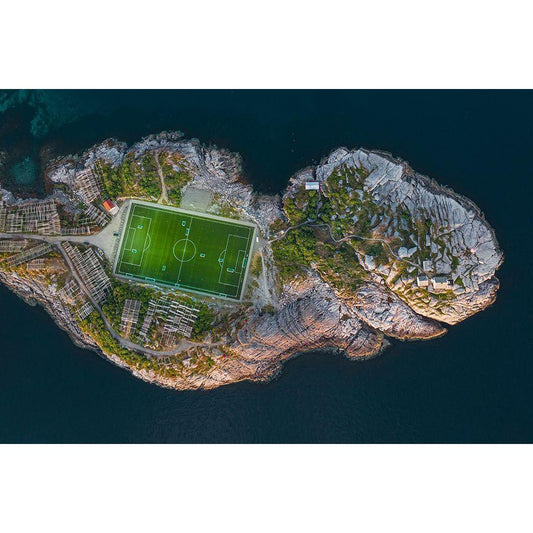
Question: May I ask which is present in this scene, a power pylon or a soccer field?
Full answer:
This aerial view contains a soccer field.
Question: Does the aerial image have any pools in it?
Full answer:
No, I can't see a single pool in this photo.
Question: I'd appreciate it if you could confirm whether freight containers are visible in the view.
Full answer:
No, I can see no freight container in this picture.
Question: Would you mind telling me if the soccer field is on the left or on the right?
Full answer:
It is on the left.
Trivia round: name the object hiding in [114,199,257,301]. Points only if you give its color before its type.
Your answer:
green soccer field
